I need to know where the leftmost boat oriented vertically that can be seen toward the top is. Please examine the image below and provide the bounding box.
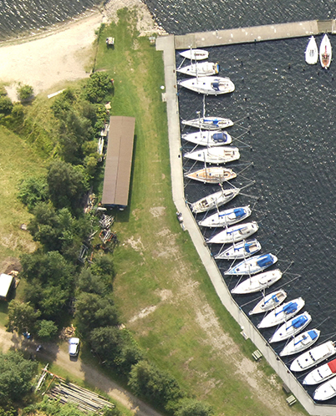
[305,36,319,68]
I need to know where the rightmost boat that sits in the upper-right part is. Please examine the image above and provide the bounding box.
[317,29,336,78]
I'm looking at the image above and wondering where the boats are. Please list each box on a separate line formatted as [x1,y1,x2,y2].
[262,306,329,345]
[255,291,310,332]
[229,263,298,294]
[241,277,300,318]
[305,36,319,68]
[175,57,238,94]
[317,29,336,78]
[180,129,251,164]
[204,212,271,252]
[215,234,277,260]
[181,153,247,184]
[311,378,336,403]
[179,50,242,79]
[191,180,240,210]
[182,98,241,130]
[180,39,222,61]
[195,194,265,232]
[303,359,336,391]
[181,115,233,146]
[288,337,336,379]
[219,245,278,283]
[281,329,326,356]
